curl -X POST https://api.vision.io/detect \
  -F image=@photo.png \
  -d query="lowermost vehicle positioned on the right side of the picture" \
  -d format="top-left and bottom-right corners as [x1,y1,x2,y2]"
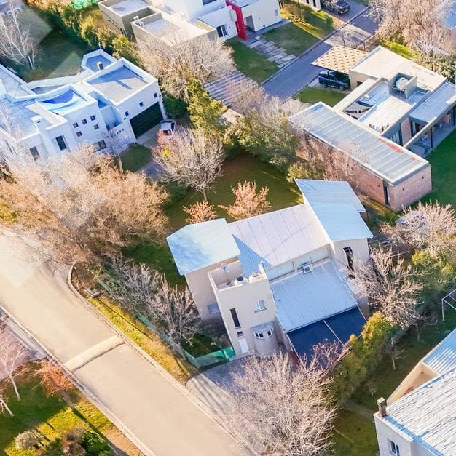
[317,68,351,91]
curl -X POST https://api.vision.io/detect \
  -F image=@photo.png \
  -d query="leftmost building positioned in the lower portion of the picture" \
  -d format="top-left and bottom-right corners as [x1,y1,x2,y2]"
[166,179,390,383]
